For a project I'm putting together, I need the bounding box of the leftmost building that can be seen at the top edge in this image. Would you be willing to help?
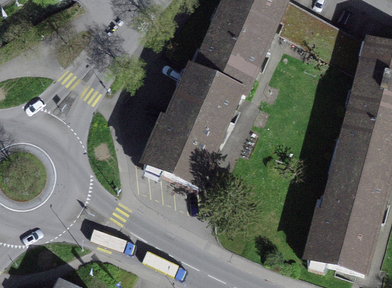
[190,0,290,92]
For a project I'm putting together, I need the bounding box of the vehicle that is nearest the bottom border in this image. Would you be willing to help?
[144,252,188,282]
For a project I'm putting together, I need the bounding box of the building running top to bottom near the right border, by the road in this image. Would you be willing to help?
[302,35,392,284]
